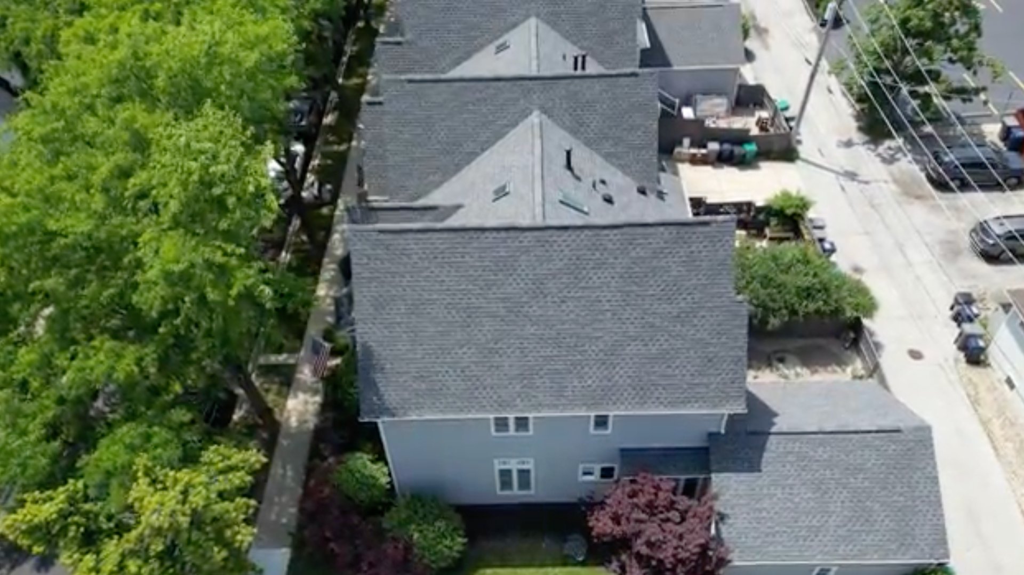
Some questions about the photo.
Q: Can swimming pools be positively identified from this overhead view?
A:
No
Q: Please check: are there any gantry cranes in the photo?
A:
No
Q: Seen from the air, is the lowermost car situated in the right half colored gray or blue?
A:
gray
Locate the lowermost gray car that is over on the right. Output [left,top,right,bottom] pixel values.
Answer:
[967,218,1024,264]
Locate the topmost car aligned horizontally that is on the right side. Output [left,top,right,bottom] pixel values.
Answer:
[924,148,1024,188]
